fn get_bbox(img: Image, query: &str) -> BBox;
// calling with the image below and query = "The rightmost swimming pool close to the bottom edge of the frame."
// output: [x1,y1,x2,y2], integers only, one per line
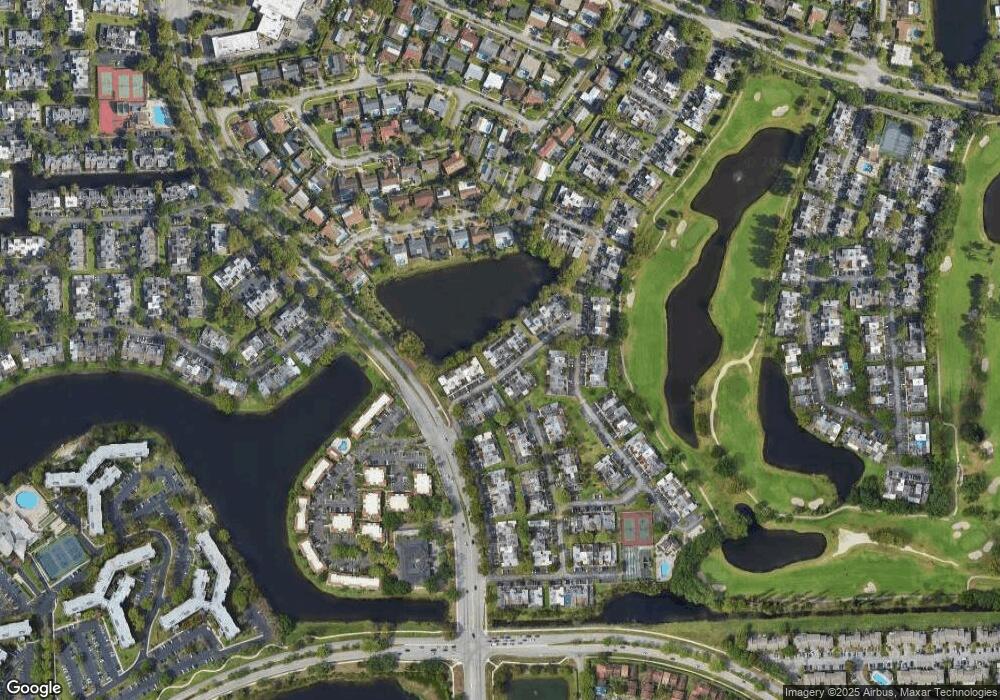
[872,671,892,686]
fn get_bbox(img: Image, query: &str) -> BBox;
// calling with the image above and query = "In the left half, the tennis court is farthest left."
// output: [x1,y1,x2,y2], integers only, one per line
[34,535,90,582]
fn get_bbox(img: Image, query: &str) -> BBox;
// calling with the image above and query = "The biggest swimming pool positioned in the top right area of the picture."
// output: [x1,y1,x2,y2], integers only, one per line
[856,155,882,178]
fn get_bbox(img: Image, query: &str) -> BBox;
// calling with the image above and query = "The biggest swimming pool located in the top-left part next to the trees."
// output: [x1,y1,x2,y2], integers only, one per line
[140,100,177,130]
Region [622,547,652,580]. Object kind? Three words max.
sports court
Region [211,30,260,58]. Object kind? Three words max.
building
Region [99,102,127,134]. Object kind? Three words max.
sports court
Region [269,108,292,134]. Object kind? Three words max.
house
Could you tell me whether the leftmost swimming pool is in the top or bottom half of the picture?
bottom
